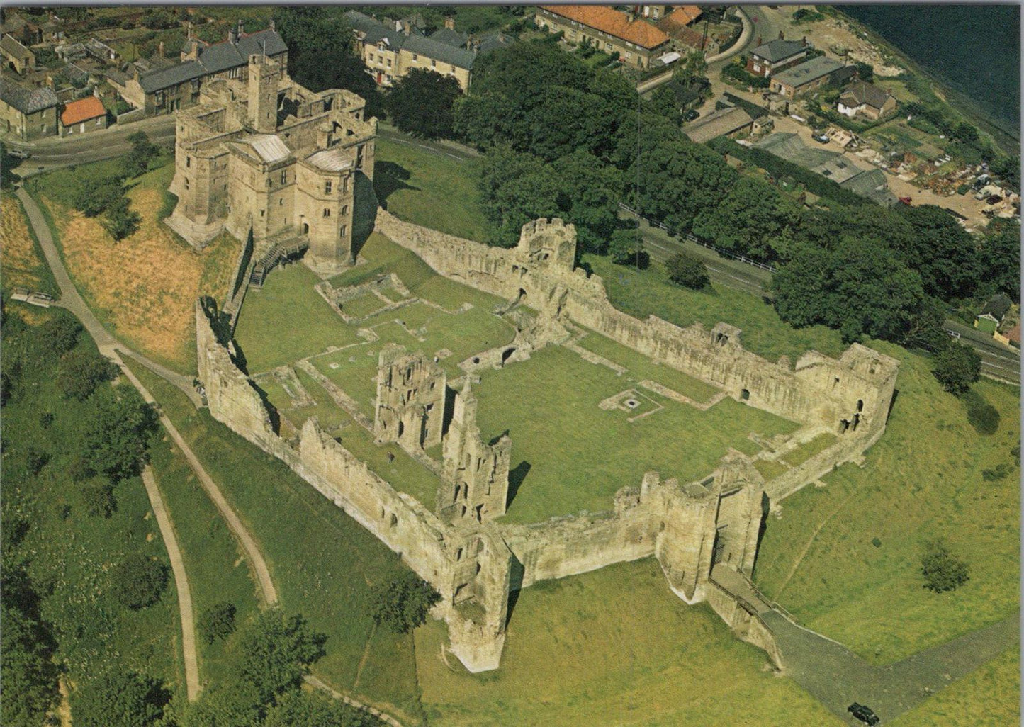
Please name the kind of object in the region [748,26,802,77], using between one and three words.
house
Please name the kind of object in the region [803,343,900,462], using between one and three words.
building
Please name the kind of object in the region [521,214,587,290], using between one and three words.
building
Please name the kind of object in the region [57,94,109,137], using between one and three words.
house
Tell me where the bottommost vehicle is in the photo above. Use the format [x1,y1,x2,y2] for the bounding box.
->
[846,697,883,726]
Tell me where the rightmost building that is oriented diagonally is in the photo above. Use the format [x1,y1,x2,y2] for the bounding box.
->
[975,287,1020,334]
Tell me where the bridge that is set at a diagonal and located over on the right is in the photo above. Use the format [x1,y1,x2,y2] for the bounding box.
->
[705,559,856,669]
